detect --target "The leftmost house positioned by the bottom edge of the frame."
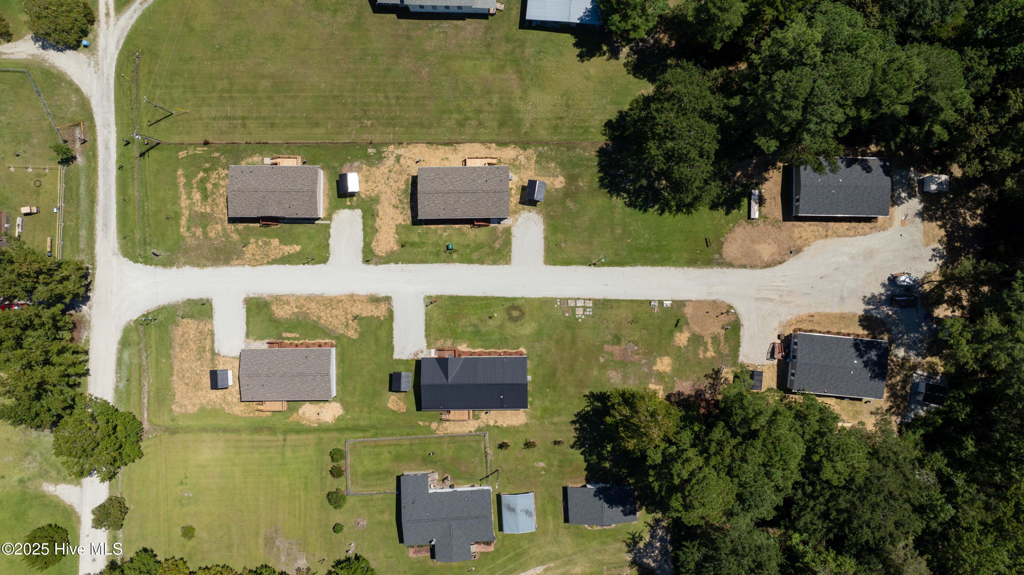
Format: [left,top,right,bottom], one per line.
[401,472,493,564]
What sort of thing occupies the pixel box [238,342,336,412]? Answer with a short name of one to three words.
house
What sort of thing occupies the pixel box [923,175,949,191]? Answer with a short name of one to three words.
shed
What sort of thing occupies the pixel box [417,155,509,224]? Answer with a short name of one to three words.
house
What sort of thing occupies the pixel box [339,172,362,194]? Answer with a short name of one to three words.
shed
